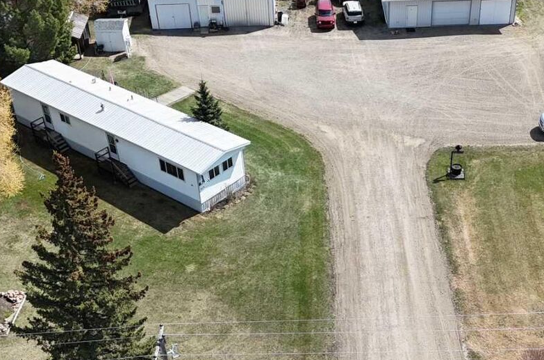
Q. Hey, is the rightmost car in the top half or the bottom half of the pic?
top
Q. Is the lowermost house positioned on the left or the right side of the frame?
left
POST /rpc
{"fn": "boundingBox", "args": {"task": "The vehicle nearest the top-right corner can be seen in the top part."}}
[340,0,363,21]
